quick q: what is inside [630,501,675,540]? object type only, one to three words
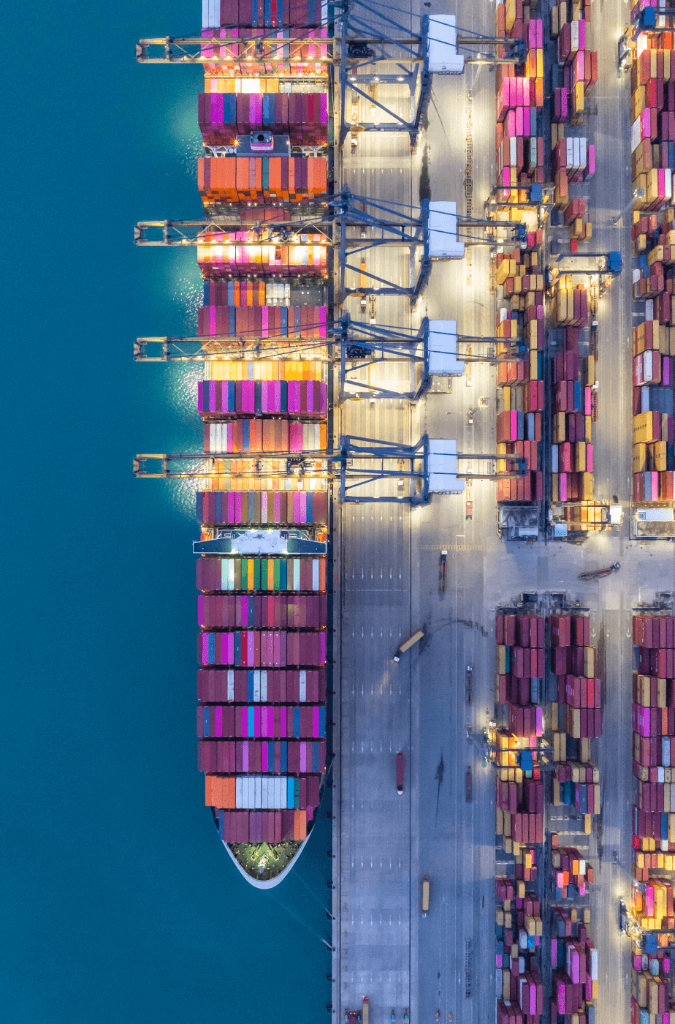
building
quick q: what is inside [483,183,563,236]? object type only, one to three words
container crane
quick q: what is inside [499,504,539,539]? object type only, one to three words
building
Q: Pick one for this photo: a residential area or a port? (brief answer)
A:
port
